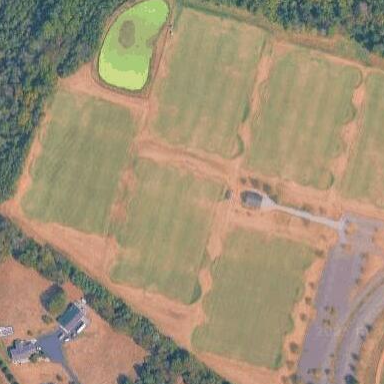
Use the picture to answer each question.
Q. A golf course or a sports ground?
sports ground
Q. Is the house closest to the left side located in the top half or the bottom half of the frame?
bottom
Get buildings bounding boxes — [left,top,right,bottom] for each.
[242,192,264,208]
[7,337,36,365]
[54,306,84,334]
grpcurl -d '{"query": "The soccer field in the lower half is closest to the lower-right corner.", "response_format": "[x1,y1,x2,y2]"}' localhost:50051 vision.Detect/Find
[190,227,321,370]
